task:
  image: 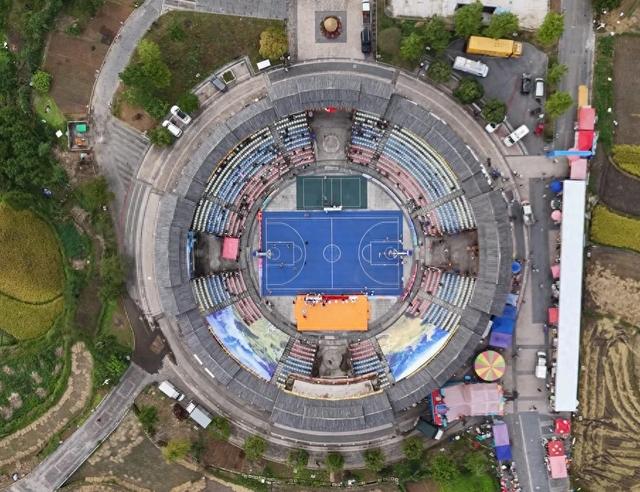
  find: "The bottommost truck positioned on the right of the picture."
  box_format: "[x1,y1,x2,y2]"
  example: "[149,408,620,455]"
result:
[412,414,442,441]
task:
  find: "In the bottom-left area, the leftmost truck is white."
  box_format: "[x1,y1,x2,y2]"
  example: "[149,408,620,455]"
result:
[155,376,189,403]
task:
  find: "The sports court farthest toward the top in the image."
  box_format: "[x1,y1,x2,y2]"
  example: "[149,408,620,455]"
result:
[298,176,368,209]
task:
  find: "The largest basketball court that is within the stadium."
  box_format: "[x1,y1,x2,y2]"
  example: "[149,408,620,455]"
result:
[261,211,403,298]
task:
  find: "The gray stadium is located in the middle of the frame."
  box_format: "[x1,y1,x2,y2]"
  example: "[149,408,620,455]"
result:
[154,73,513,434]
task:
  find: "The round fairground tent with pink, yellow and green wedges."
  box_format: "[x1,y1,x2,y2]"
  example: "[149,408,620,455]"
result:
[469,346,506,381]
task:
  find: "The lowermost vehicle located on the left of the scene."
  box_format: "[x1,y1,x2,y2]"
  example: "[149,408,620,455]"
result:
[186,399,216,430]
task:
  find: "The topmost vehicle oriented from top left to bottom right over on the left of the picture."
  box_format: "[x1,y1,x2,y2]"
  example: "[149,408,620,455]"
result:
[211,75,231,96]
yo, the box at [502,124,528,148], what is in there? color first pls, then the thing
white vehicle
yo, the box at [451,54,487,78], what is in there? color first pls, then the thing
white vehicle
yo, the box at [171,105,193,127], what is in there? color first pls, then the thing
white car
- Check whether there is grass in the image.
Yes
